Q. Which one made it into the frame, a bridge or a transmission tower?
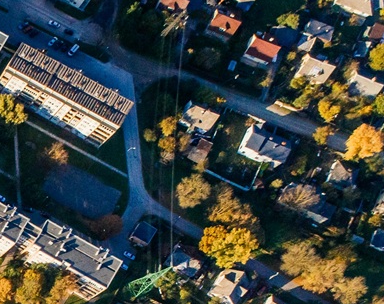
transmission tower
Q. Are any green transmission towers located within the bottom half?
Yes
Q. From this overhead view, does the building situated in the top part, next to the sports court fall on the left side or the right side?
left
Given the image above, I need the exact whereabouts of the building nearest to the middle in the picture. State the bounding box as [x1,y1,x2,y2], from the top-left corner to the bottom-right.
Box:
[190,130,214,165]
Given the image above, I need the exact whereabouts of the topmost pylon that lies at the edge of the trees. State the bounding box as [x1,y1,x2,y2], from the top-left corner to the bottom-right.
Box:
[165,3,198,35]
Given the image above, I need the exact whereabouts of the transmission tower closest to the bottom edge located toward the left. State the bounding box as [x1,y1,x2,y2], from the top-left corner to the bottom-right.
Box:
[129,269,172,297]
